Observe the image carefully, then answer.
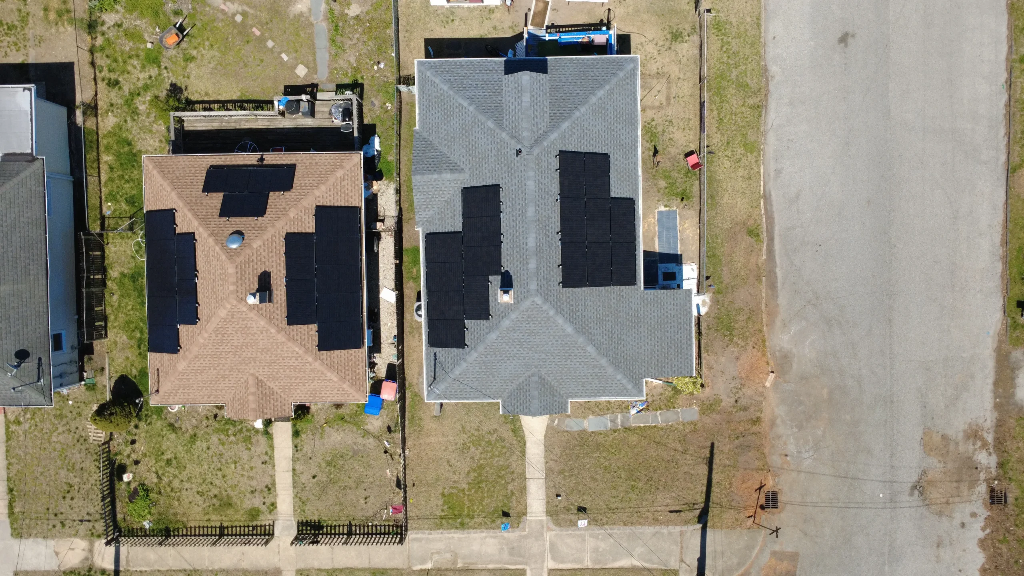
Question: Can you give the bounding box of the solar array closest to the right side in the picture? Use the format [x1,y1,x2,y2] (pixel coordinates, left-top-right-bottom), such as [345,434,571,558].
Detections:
[556,152,636,287]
